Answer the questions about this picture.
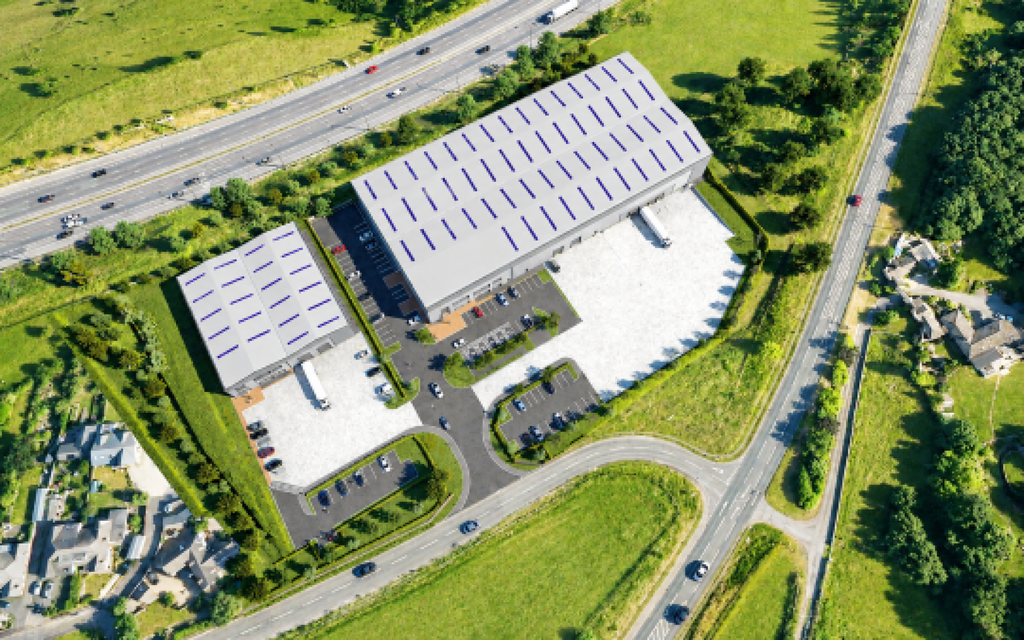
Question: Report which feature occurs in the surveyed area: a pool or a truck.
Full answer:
It is a truck that can be seen here.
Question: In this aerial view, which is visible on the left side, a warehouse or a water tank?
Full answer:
It is a warehouse that can be seen on the left side.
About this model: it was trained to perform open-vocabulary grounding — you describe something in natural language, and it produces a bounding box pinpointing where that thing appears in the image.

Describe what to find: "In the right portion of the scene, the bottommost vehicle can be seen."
[670,601,690,627]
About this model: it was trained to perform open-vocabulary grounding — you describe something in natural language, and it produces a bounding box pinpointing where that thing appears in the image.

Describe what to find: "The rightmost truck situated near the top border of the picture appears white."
[543,0,586,24]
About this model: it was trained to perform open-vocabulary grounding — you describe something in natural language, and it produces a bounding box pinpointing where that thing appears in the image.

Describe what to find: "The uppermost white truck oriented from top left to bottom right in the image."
[640,200,674,248]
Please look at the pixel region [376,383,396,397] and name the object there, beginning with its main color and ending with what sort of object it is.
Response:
white car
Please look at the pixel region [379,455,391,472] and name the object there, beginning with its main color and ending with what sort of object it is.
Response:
white vehicle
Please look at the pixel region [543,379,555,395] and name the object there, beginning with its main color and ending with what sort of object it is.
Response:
black vehicle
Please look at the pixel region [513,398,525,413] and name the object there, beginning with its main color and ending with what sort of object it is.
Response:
blue vehicle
